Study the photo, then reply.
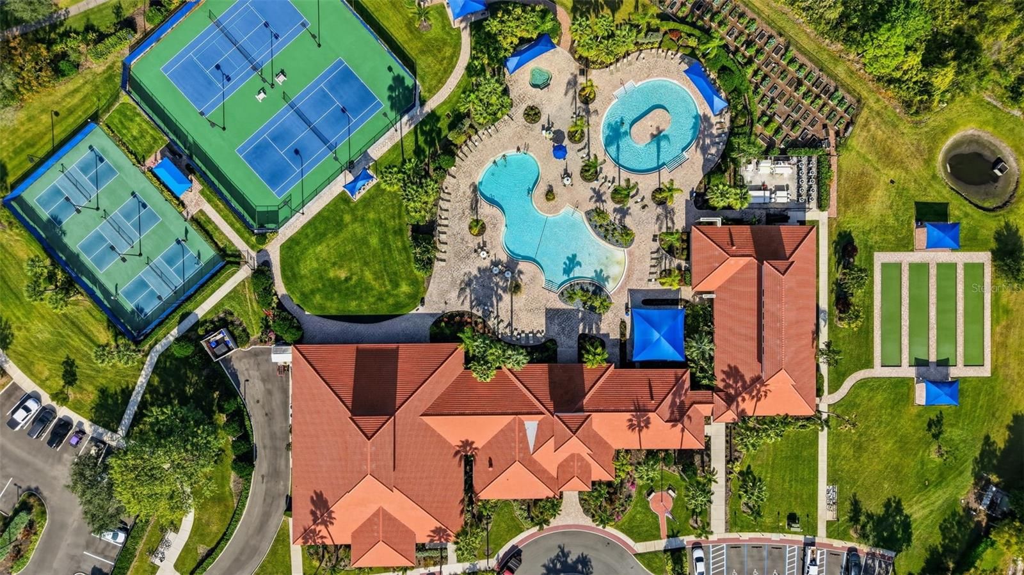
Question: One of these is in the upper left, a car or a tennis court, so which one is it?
tennis court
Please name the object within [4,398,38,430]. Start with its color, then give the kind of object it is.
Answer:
white truck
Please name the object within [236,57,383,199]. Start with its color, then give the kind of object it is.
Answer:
blue tennis court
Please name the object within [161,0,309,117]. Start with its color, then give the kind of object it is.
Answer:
blue tennis court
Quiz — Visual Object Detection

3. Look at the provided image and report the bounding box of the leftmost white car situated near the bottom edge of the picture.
[97,528,127,547]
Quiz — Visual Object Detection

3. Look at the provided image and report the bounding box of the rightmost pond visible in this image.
[937,128,1022,213]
